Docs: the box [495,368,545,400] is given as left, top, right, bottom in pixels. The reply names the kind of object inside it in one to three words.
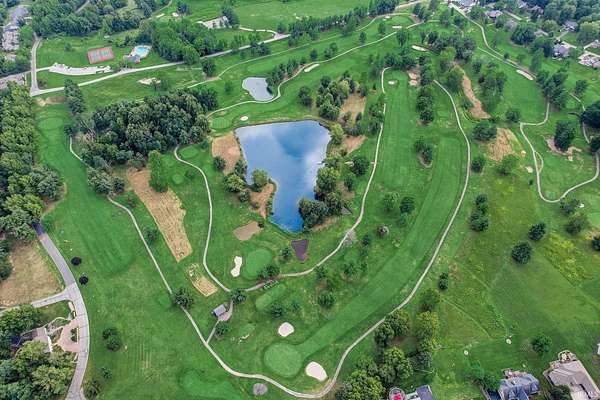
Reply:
house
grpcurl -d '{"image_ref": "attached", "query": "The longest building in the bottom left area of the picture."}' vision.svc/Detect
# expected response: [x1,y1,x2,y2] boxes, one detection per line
[11,326,39,350]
